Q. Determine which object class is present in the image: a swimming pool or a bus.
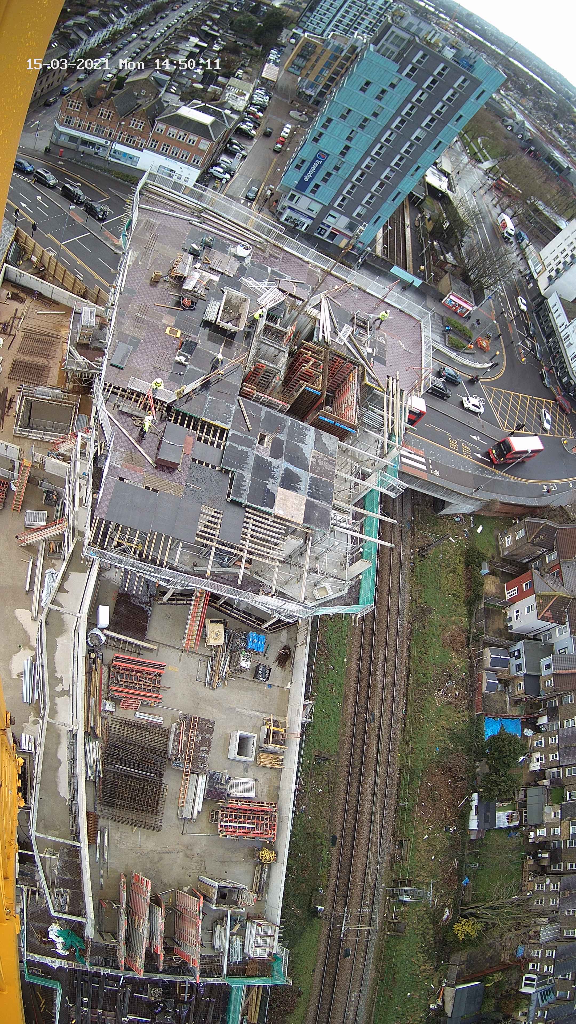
bus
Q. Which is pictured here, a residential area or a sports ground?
residential area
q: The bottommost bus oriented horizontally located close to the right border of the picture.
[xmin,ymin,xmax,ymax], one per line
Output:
[481,435,548,468]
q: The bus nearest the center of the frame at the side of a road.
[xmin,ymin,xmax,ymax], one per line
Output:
[391,391,426,426]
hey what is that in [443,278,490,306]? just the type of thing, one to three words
building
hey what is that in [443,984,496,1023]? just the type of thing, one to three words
shed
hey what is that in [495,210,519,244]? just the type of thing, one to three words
truck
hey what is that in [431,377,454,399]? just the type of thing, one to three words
car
